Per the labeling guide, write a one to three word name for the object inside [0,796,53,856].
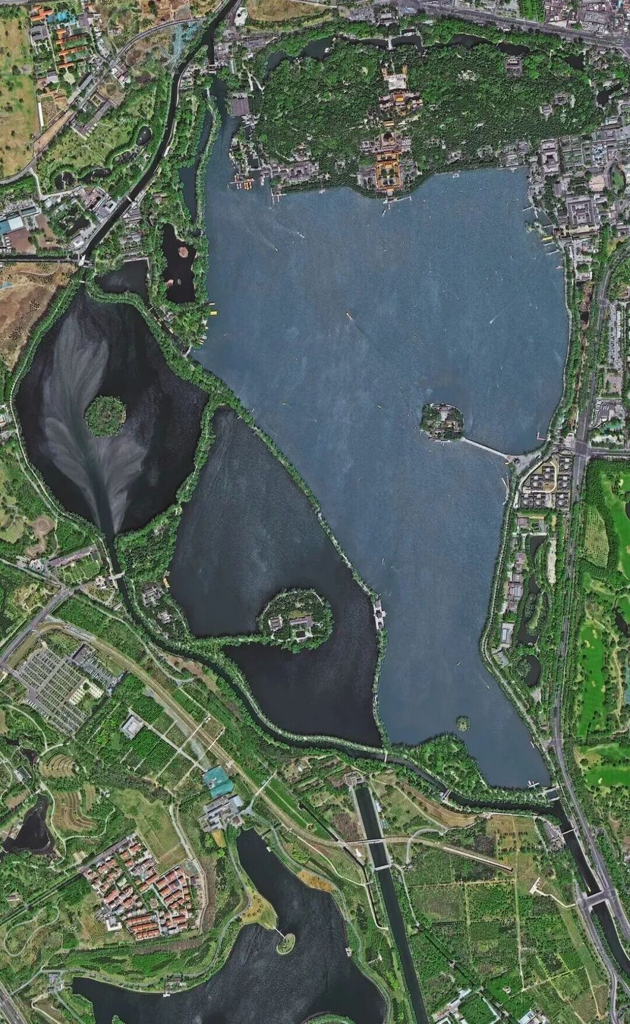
pond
